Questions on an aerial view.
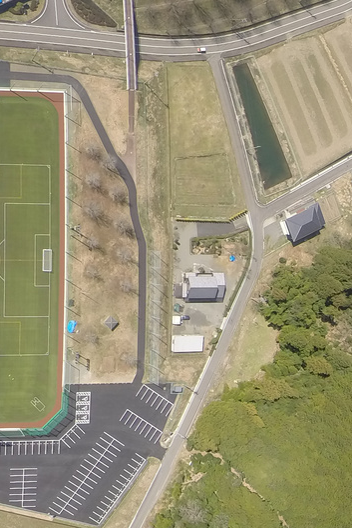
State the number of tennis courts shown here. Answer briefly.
0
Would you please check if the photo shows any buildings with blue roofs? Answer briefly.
No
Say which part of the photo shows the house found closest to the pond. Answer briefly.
right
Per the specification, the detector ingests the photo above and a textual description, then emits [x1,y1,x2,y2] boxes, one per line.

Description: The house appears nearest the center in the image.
[172,274,227,301]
